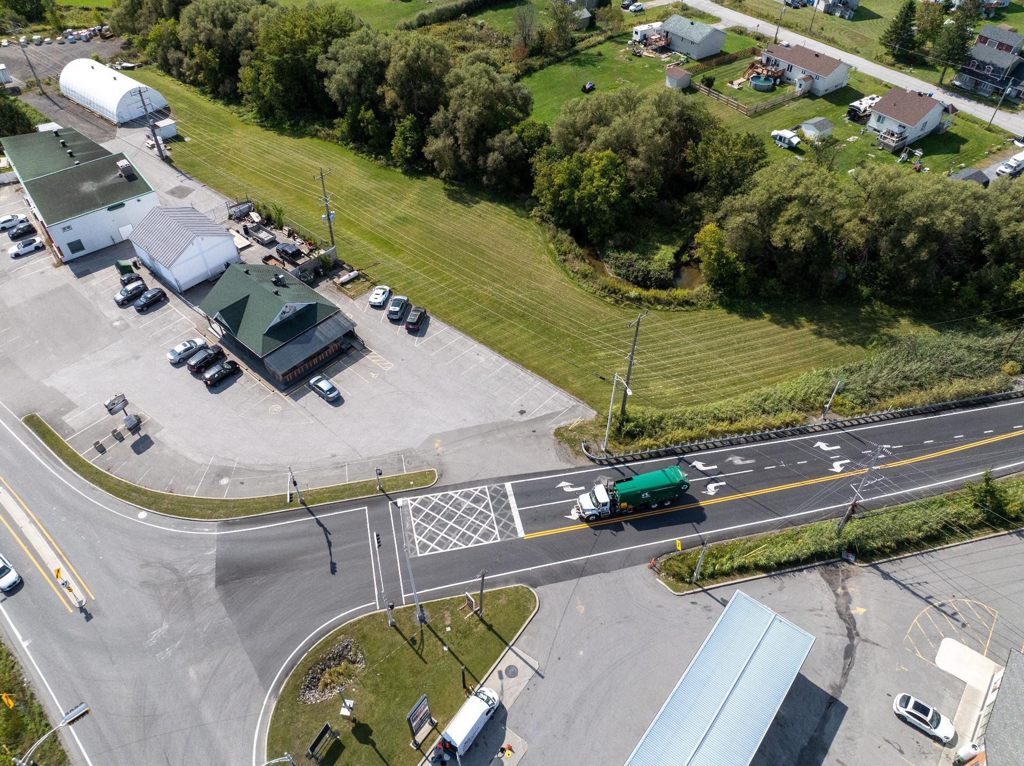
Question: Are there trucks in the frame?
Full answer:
Yes, this view includes a truck.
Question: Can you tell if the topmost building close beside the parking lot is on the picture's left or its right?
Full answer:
You can find the topmost building close beside the parking lot on the left side of the picture.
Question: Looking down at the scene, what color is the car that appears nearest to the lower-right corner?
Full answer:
The car that appears nearest to the lower-right corner looks white in the image.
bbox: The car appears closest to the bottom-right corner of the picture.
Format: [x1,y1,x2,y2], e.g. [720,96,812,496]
[889,693,955,744]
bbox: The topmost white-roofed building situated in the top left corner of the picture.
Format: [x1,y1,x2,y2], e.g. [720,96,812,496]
[57,53,169,125]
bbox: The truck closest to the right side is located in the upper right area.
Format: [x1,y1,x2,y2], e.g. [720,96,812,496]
[996,147,1024,175]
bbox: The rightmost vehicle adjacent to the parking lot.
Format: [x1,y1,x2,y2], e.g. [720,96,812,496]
[572,464,698,522]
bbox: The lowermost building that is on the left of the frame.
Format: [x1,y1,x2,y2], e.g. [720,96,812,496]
[166,264,365,390]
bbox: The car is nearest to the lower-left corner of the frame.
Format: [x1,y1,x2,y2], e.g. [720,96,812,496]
[0,558,20,594]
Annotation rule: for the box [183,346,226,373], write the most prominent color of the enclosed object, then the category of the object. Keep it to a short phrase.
black car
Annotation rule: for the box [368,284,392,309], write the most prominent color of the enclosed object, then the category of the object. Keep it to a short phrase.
white car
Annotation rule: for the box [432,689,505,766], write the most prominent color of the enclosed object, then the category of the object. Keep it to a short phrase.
white van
